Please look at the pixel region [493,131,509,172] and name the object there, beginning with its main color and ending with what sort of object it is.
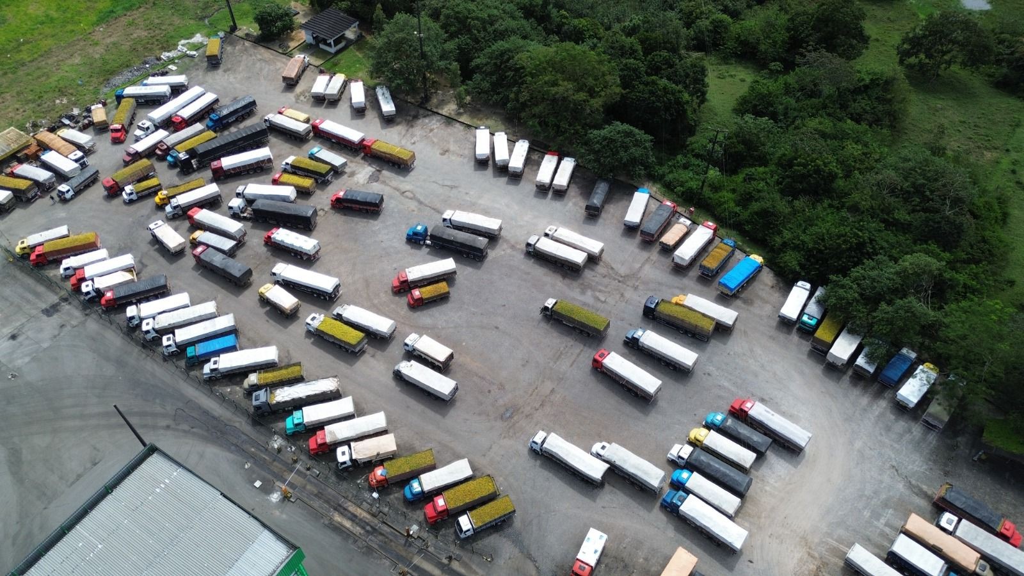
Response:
white vehicle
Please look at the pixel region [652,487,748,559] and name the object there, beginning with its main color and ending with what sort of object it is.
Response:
white truck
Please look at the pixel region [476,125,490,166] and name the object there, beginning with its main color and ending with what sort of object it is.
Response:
white vehicle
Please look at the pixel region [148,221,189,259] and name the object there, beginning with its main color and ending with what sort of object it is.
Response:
white truck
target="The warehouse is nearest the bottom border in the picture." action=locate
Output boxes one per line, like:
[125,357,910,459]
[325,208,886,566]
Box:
[0,443,307,576]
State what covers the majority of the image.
paved ground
